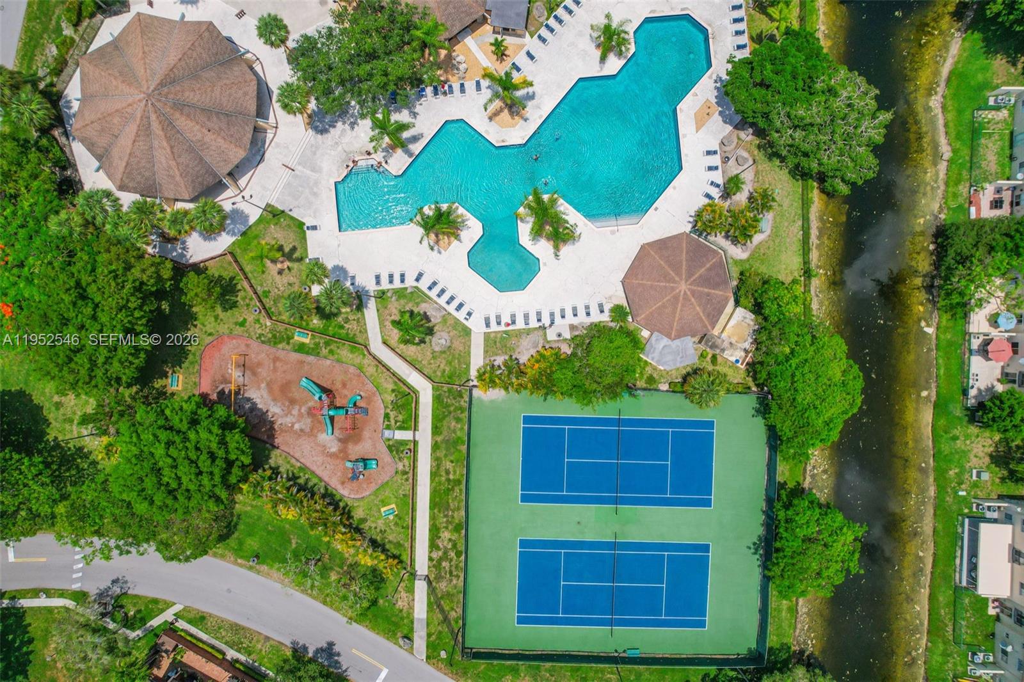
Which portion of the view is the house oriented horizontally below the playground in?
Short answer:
bottom left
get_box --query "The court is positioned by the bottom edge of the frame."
[466,525,760,654]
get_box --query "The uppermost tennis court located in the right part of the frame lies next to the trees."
[469,388,767,528]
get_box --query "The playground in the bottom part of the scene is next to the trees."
[198,334,397,499]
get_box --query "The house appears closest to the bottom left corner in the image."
[130,634,246,682]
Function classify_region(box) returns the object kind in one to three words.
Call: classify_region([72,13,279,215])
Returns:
building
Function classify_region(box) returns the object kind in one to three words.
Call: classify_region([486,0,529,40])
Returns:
shed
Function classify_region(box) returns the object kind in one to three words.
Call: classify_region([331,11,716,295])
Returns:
swimming pool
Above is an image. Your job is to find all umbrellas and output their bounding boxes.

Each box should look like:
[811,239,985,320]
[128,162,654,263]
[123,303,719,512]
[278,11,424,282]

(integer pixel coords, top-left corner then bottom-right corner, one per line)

[990,311,1015,332]
[985,338,1011,363]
